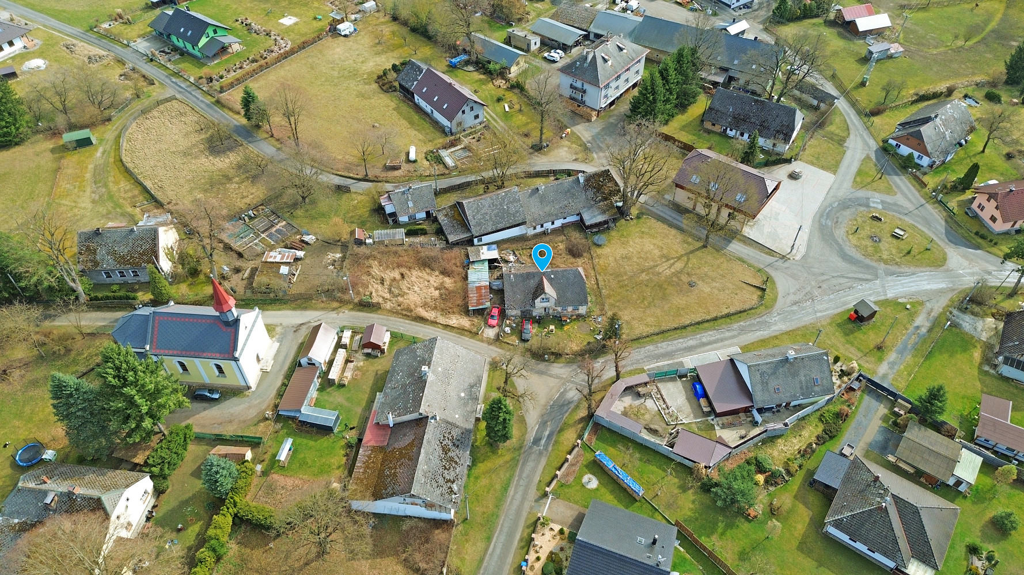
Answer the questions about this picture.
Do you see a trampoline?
Yes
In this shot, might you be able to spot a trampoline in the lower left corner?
Yes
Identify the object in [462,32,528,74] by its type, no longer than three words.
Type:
shed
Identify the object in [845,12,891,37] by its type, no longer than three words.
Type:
building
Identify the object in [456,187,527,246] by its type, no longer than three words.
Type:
barn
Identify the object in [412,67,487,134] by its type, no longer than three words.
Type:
house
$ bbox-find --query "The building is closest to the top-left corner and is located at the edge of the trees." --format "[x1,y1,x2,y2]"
[0,21,28,56]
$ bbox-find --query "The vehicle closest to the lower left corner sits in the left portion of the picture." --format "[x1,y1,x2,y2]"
[190,386,222,401]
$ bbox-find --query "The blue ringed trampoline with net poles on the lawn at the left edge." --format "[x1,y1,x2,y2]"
[4,433,46,470]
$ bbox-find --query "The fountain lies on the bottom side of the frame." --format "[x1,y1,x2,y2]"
[581,473,599,490]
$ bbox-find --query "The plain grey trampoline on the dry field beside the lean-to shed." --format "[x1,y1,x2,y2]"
[590,231,610,248]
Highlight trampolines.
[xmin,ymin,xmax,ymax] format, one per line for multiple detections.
[590,231,610,248]
[4,433,46,470]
